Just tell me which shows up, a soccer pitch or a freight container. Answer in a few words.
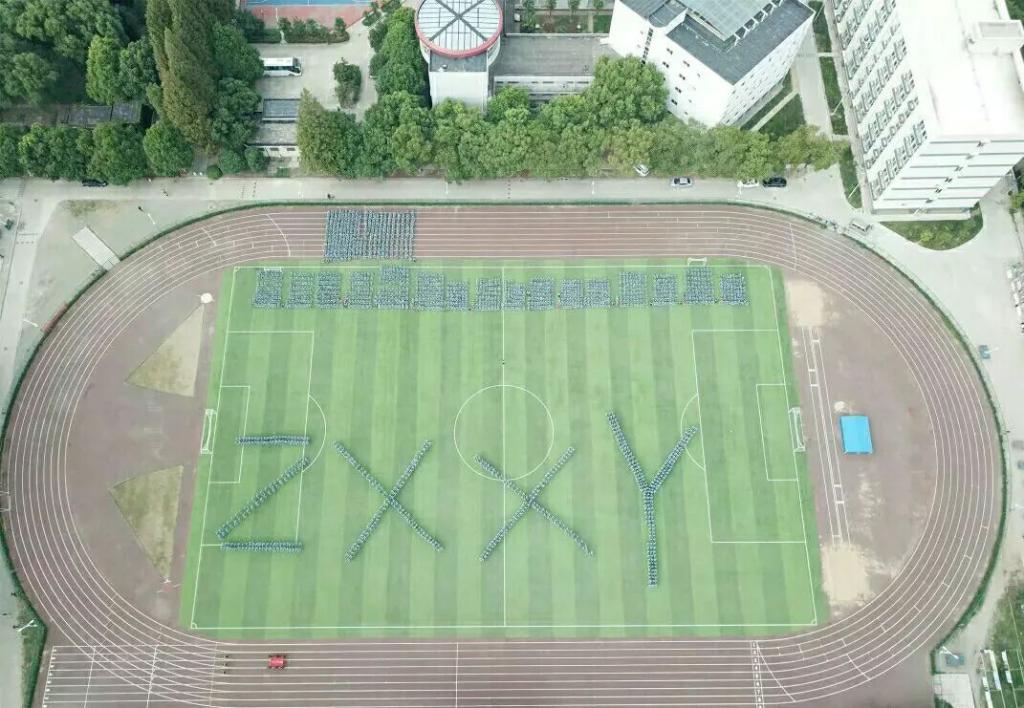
soccer pitch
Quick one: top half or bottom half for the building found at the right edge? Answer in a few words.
top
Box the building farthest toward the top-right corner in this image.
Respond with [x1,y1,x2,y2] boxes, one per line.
[833,0,1024,212]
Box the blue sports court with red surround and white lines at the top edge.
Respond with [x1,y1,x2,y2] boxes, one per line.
[247,0,372,28]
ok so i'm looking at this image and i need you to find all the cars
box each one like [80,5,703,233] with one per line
[670,177,693,188]
[763,177,787,188]
[631,160,651,176]
[738,179,758,189]
[80,178,106,188]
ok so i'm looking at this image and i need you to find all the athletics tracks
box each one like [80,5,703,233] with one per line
[0,205,1002,708]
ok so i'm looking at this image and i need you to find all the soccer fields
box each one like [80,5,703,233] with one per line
[179,259,826,640]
